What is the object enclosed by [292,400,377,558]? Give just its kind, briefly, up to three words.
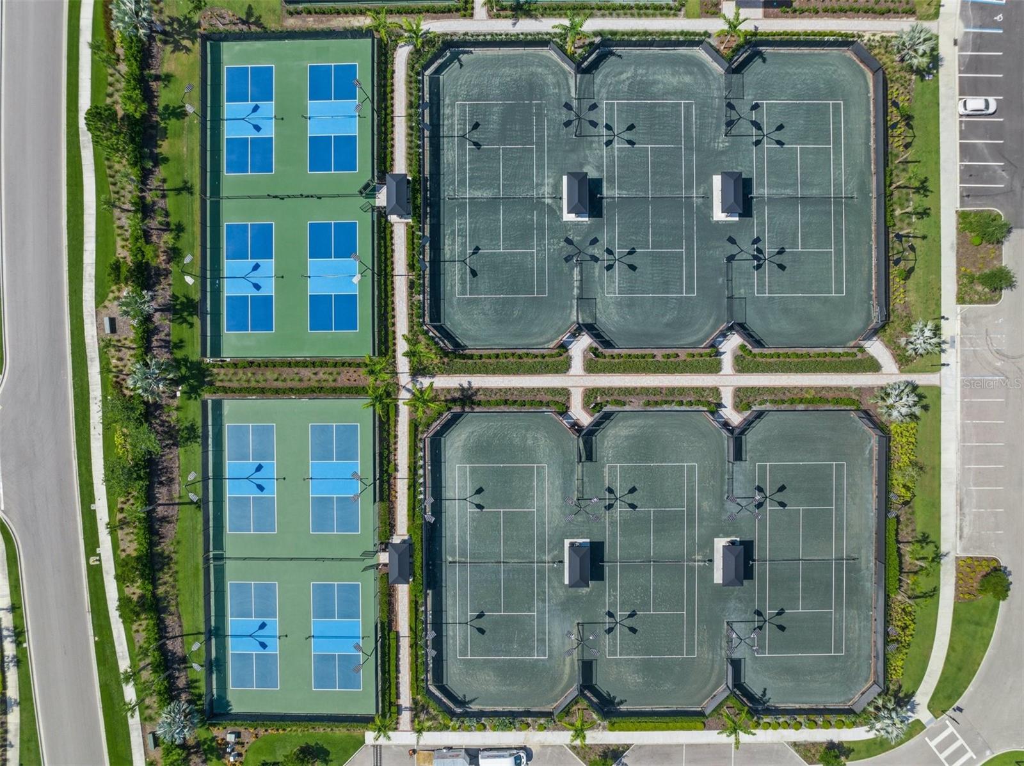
sports court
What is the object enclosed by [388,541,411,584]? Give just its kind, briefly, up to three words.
building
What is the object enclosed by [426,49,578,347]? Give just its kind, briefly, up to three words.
tennis court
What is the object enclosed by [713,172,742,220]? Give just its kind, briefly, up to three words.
building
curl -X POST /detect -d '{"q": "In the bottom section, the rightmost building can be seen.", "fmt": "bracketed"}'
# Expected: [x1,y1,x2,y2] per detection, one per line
[714,538,743,586]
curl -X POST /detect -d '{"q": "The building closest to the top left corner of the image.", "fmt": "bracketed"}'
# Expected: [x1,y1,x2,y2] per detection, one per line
[386,174,408,217]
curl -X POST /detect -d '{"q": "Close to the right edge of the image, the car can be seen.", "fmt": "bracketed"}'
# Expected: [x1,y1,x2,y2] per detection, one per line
[959,97,998,116]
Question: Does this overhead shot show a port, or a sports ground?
sports ground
